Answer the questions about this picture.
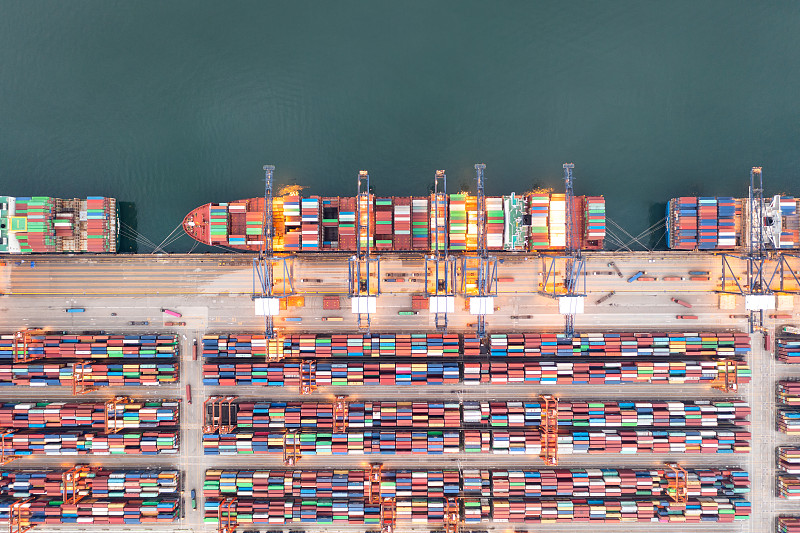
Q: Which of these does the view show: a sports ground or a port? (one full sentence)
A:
This looks like a port.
